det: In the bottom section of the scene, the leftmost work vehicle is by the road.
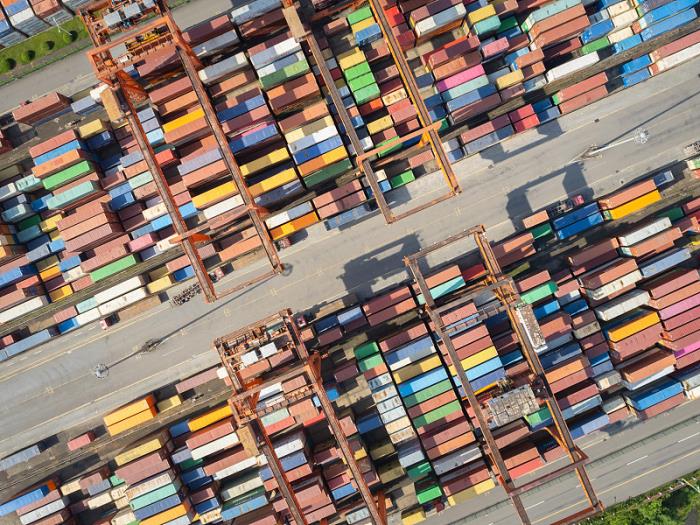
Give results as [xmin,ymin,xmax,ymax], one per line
[96,315,120,332]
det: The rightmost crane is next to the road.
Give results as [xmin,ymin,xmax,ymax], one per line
[403,227,604,525]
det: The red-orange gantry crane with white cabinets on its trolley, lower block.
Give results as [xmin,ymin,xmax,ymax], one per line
[210,308,399,525]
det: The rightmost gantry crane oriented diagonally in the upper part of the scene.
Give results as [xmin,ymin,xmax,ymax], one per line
[278,0,462,226]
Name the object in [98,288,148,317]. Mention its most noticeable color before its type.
white shipping container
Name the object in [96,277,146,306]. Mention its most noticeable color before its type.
white shipping container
